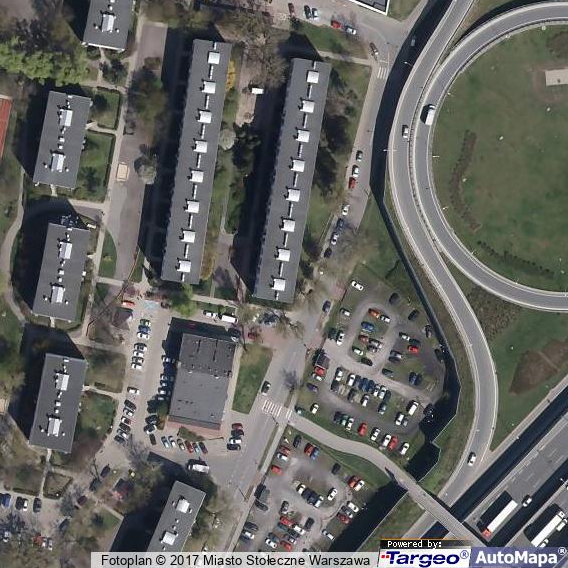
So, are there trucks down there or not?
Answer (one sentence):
Yes, you can see a truck in this photo.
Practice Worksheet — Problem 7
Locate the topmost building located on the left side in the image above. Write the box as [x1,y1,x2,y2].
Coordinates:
[84,0,136,54]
